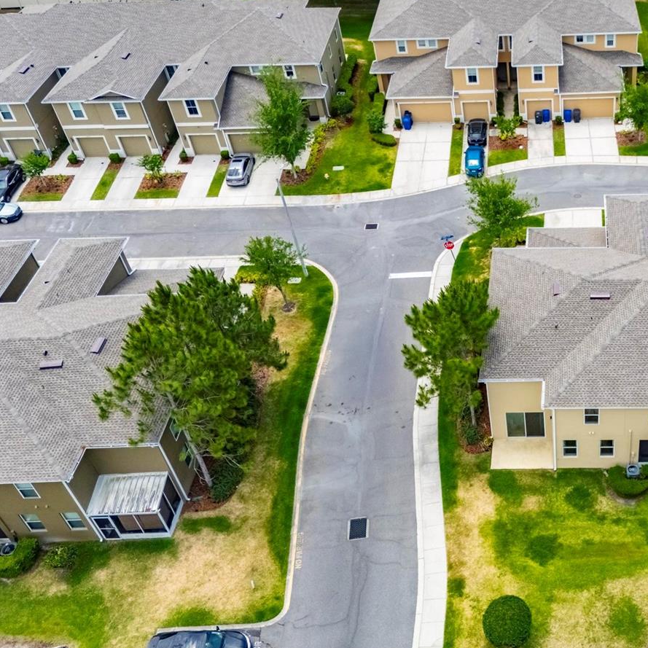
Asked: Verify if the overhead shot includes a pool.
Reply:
No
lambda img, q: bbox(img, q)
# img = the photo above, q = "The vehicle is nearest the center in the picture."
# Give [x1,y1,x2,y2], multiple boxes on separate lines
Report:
[221,154,255,186]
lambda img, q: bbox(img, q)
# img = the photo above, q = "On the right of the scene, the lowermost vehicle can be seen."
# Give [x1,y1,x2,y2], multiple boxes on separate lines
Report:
[462,142,486,173]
